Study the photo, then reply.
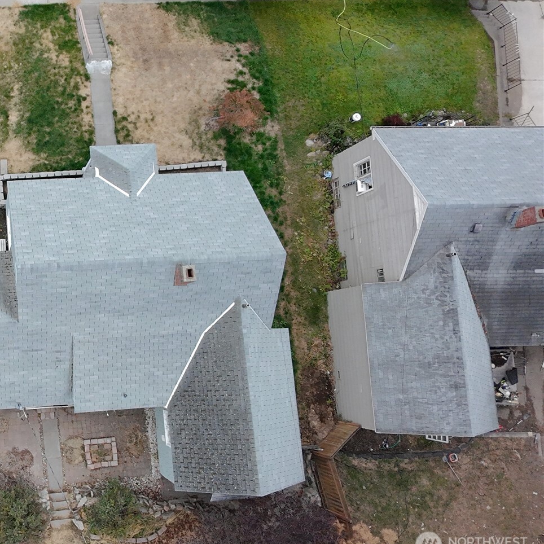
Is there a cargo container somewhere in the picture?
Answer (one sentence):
No, I find no cargo container anywhere in the image.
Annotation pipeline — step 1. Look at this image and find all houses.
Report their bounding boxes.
[327,123,544,437]
[0,143,305,501]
